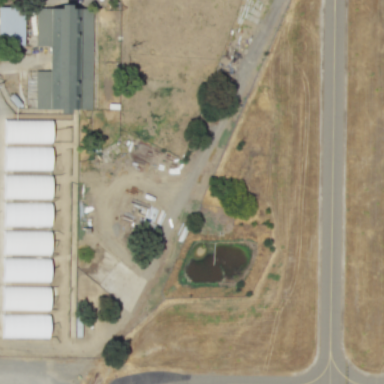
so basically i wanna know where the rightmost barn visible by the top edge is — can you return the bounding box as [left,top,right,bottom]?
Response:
[38,3,94,112]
